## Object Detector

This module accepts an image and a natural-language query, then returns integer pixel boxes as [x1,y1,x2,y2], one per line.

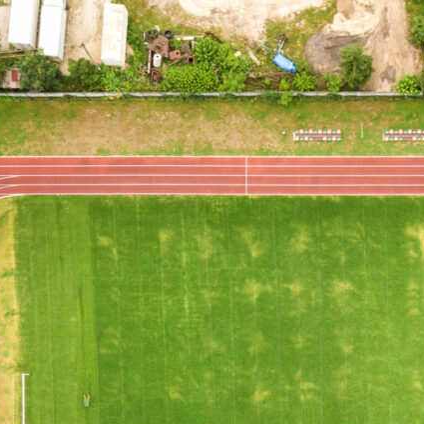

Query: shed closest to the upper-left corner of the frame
[8,0,40,52]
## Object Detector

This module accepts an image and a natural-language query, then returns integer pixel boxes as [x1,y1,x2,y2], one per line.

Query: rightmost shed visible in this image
[39,0,69,64]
